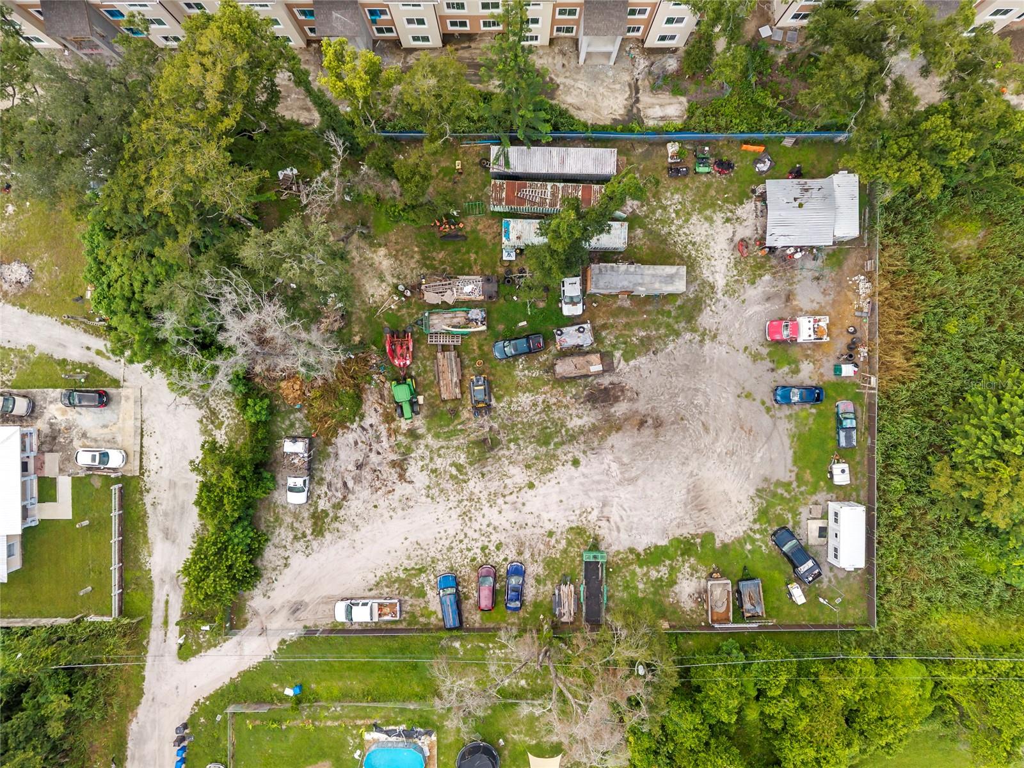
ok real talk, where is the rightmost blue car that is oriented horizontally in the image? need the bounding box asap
[771,383,824,406]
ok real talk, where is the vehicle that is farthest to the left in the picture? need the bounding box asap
[0,393,38,416]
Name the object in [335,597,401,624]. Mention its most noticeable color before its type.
white truck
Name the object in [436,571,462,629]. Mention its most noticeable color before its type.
blue car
